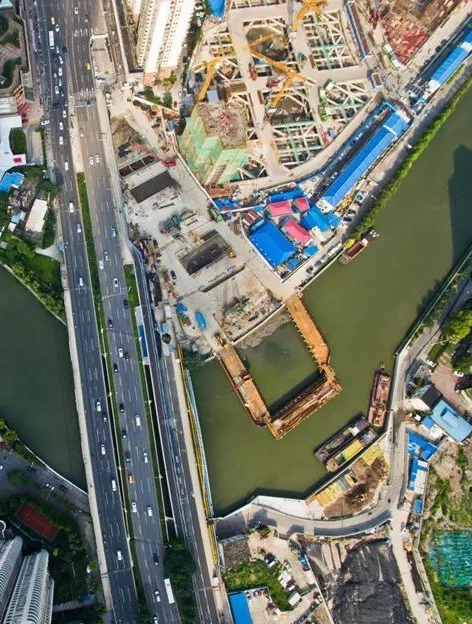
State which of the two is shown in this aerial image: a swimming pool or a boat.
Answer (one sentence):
Looking from above, you can make out a boat.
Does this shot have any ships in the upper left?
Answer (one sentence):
No, no ship is visible in the upper left.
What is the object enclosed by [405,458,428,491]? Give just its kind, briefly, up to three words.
shed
